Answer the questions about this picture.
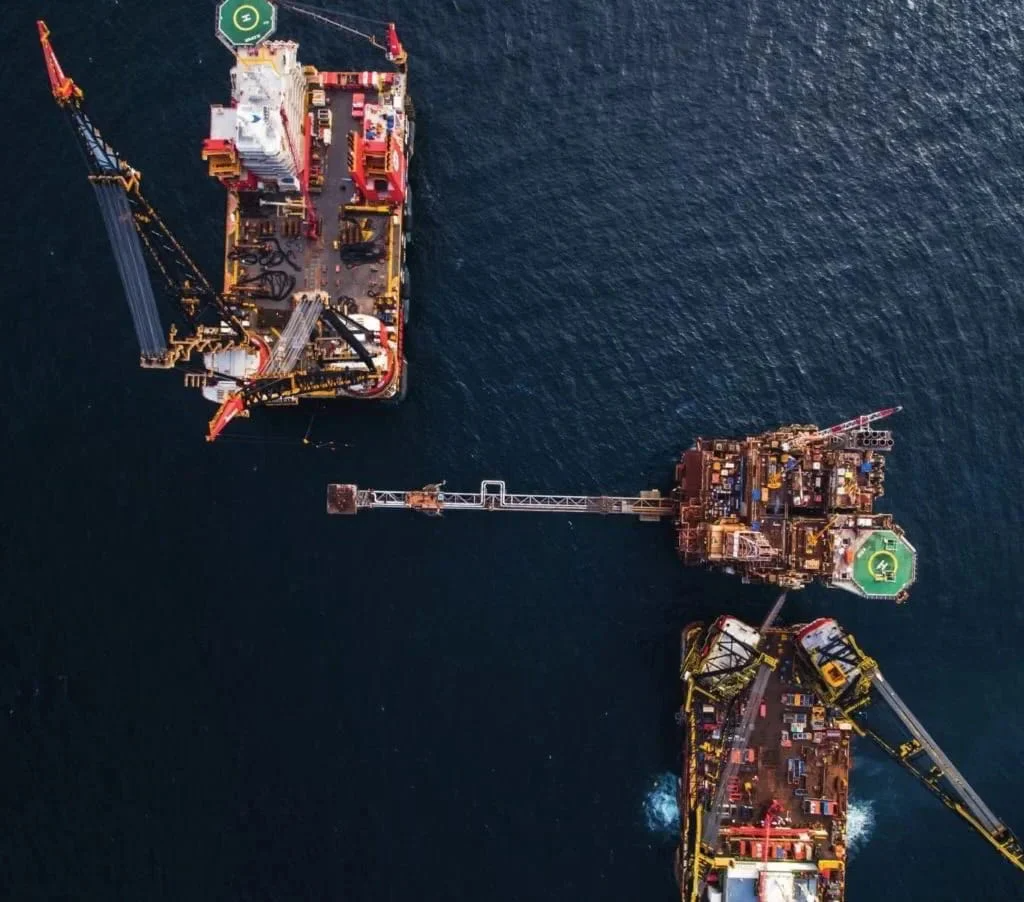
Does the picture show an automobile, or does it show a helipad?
helipad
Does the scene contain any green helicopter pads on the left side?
Yes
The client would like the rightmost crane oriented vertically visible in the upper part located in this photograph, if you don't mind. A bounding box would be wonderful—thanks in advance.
[282,109,319,242]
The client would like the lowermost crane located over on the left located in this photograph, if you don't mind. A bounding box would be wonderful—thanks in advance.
[206,292,398,442]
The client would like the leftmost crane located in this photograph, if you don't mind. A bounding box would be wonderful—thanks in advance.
[38,23,281,401]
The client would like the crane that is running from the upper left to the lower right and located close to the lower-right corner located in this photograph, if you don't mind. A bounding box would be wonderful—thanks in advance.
[790,614,1024,878]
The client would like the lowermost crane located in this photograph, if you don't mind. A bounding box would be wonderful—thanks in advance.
[760,795,780,902]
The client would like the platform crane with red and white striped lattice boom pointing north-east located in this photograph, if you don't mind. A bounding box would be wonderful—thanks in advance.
[781,407,903,450]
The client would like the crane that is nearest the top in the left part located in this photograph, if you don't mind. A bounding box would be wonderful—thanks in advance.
[274,0,409,79]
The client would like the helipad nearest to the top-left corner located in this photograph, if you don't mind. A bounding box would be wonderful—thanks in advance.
[217,0,276,48]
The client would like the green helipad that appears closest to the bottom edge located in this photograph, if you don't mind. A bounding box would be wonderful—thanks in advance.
[851,524,917,602]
